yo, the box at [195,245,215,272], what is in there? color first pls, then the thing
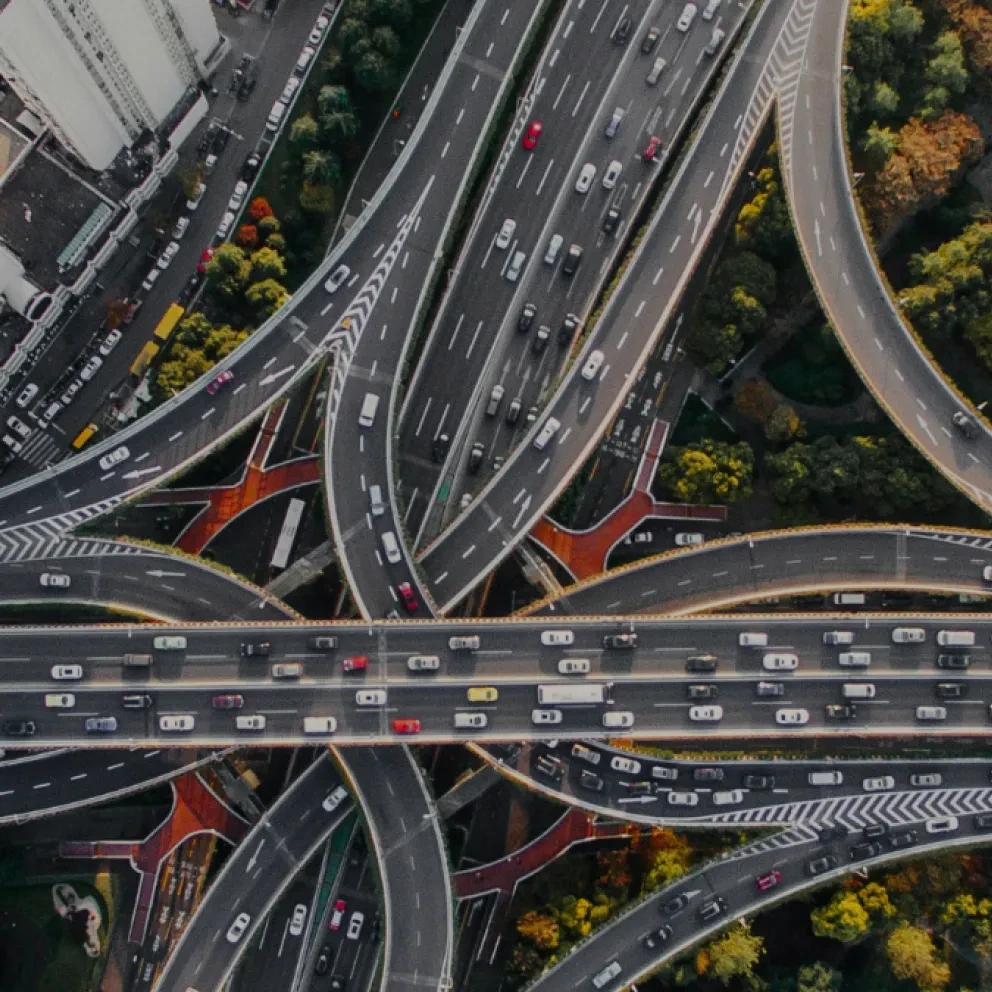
red car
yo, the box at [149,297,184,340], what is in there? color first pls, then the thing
yellow truck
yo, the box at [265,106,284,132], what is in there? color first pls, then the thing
white vehicle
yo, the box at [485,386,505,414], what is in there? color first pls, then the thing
gray car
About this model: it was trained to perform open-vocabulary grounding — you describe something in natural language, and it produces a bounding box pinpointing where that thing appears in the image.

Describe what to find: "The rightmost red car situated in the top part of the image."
[643,137,661,161]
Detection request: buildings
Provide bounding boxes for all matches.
[0,131,126,358]
[0,0,222,170]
